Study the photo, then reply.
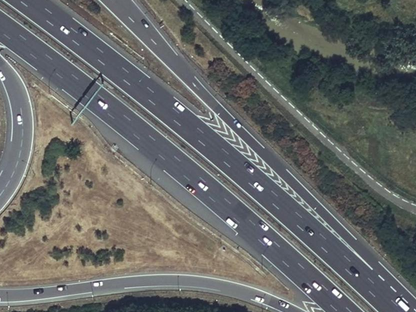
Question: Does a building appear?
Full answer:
No, there isn't any building down there.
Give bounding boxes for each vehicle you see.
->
[350,266,360,276]
[253,180,264,190]
[174,101,186,112]
[234,118,242,128]
[312,281,322,290]
[60,25,70,34]
[196,180,208,190]
[302,283,311,292]
[262,236,272,244]
[0,70,5,80]
[225,216,238,228]
[396,296,410,310]
[140,18,150,28]
[33,288,44,294]
[259,220,268,230]
[254,295,264,302]
[78,27,88,36]
[184,182,196,192]
[97,98,108,108]
[56,284,66,290]
[17,114,22,124]
[331,288,342,298]
[305,226,314,235]
[93,281,103,286]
